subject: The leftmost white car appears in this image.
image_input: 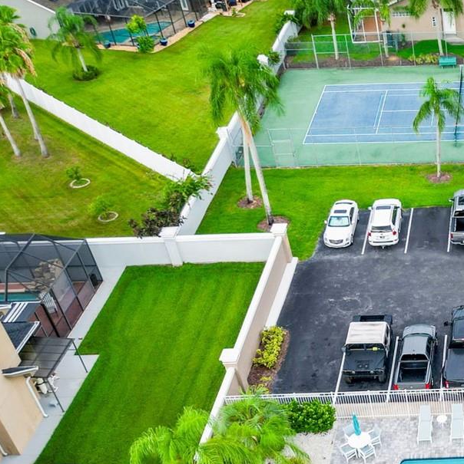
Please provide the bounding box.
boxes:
[323,204,362,251]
